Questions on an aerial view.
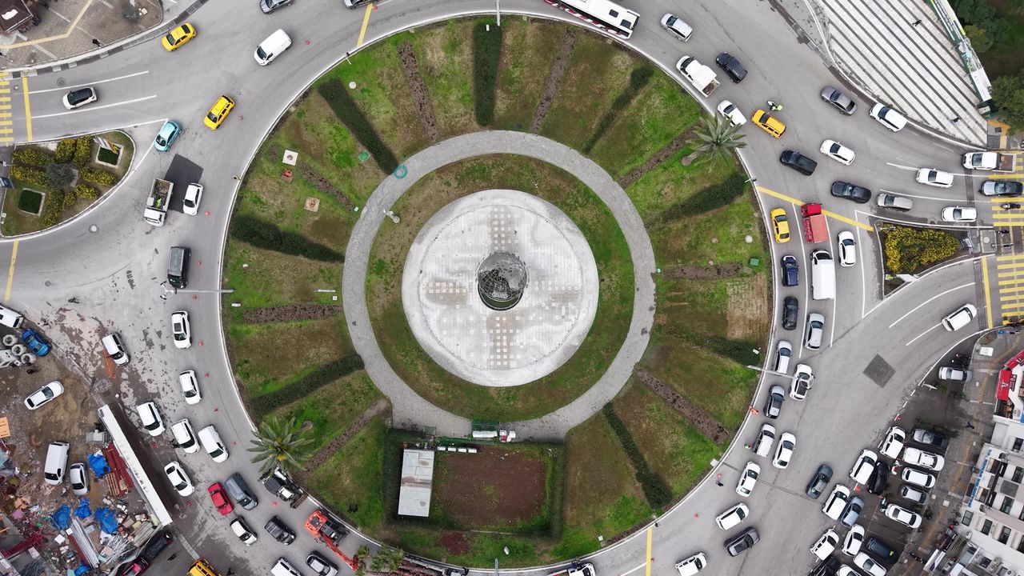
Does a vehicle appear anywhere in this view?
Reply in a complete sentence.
Yes, looking at the shot, I can spot a vehicle.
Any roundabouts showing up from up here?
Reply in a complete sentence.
Yes, a roundabout can be made out from above.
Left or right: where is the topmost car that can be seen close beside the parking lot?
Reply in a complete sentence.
The topmost car that can be seen close beside the parking lot appears in the right half of the scene.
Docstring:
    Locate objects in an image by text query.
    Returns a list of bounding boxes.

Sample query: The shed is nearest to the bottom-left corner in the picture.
[398,446,436,516]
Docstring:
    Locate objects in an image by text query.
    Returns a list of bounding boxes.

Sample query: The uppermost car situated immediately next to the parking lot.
[937,303,980,333]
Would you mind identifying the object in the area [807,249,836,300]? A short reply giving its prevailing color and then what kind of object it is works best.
white van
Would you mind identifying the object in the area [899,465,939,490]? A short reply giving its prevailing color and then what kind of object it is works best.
white car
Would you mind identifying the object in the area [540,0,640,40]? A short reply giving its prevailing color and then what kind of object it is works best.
white bus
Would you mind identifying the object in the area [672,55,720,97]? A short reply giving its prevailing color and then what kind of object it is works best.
white truck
